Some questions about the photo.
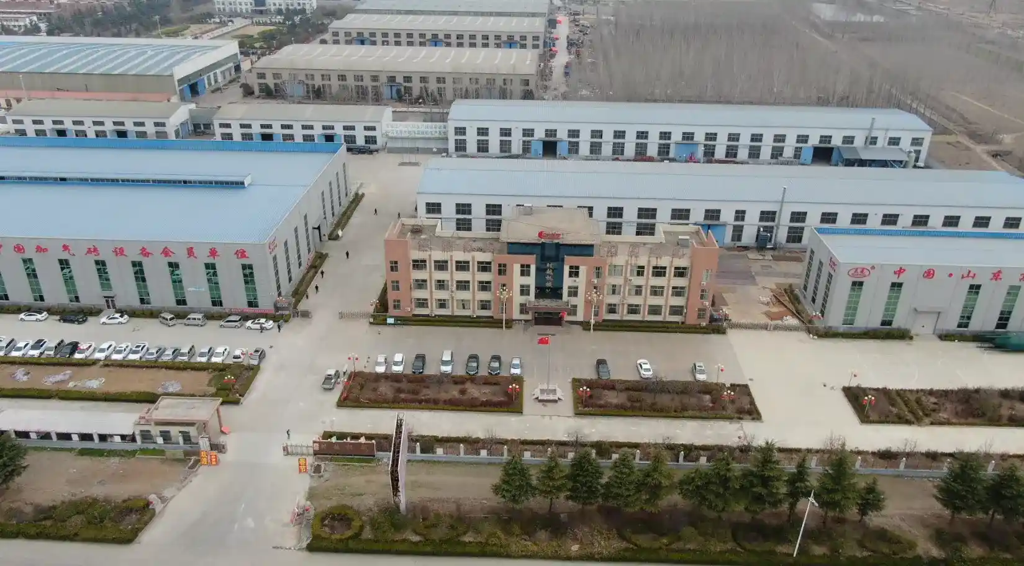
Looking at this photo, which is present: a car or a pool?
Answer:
car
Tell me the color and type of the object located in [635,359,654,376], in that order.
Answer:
white car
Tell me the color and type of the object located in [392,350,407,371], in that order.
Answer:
white car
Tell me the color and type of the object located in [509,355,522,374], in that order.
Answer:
white vehicle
